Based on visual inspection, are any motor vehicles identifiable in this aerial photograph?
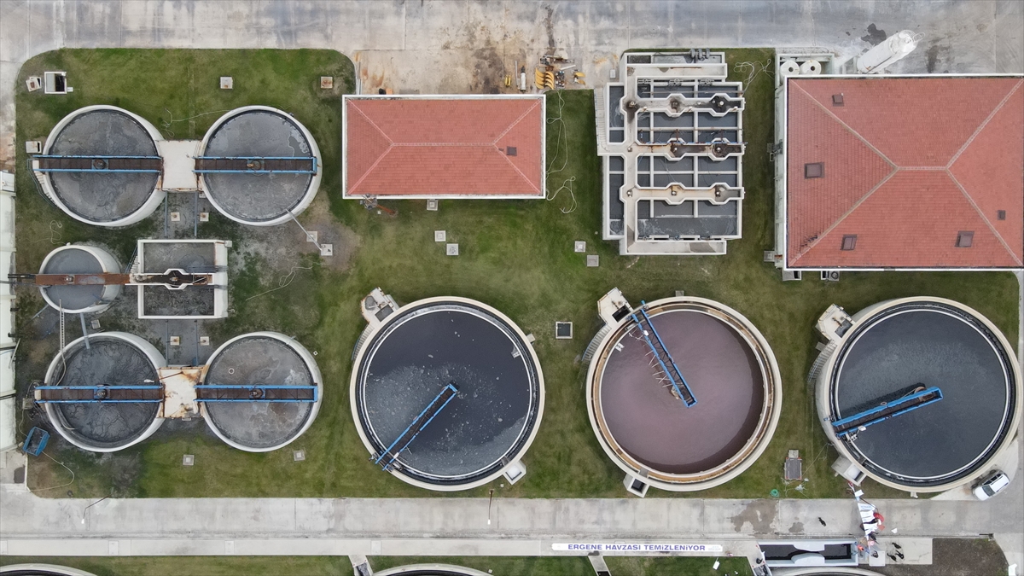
Yes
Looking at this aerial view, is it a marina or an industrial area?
industrial area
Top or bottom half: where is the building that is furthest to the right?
top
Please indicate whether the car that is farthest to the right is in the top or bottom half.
bottom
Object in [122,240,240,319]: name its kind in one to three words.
storage tank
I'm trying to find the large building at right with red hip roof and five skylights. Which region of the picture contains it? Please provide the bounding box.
[767,75,1024,270]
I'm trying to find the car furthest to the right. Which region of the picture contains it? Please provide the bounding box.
[975,471,1016,502]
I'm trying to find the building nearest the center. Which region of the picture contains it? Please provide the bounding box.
[343,95,546,200]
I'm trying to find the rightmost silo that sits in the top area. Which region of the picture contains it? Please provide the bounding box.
[842,26,930,75]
